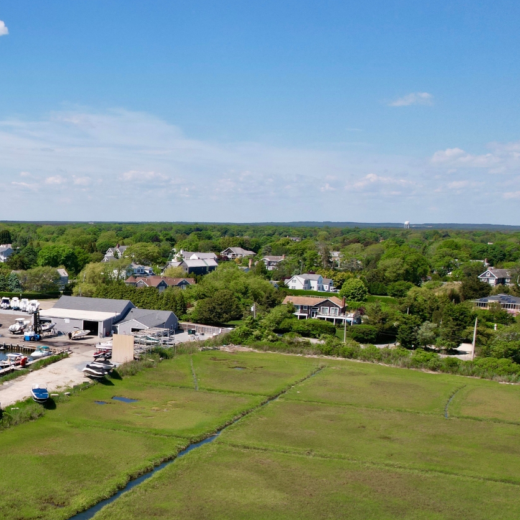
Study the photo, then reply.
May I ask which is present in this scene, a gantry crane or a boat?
boat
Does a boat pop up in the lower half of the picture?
Yes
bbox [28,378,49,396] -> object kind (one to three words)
boat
